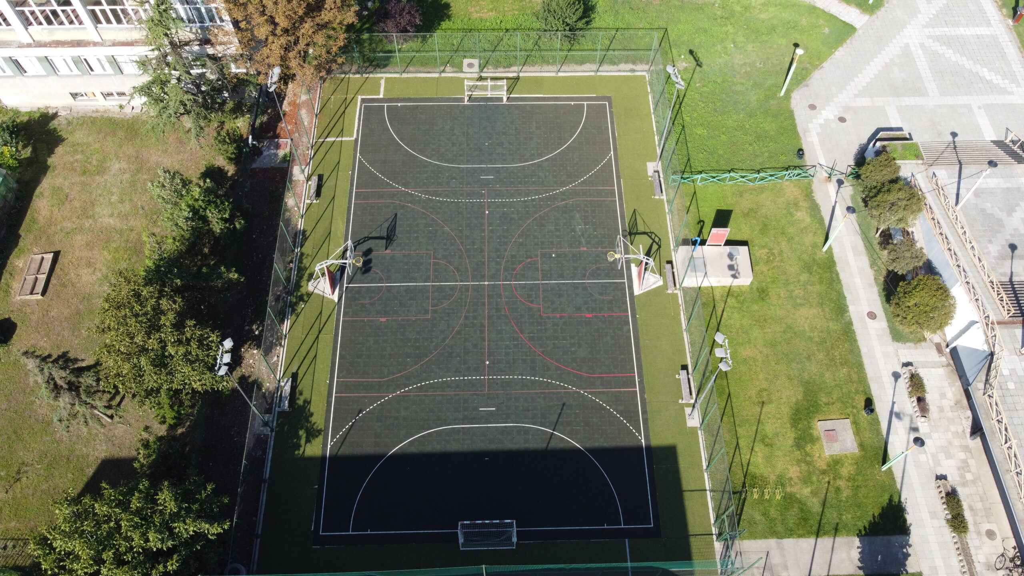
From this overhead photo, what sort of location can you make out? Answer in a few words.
sports ground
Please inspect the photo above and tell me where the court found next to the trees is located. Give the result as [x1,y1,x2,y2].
[248,71,726,576]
